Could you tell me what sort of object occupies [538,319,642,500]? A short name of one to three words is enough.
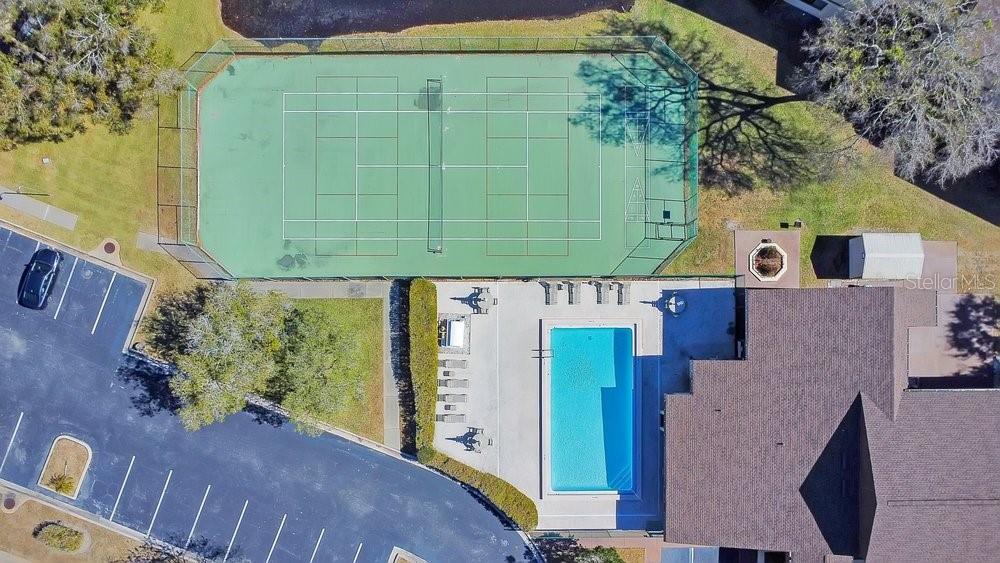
swimming pool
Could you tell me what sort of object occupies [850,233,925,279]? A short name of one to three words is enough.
shed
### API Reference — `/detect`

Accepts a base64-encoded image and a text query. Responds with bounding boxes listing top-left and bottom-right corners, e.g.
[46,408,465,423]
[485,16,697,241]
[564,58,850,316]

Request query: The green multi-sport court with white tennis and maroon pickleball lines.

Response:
[195,50,688,276]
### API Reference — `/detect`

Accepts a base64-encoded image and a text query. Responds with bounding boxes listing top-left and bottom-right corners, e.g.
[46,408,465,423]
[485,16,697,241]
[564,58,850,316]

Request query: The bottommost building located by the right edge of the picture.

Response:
[659,288,1000,563]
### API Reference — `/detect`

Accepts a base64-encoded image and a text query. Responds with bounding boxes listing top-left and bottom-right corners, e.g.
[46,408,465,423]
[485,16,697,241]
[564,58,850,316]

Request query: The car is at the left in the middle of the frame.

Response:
[21,249,64,310]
